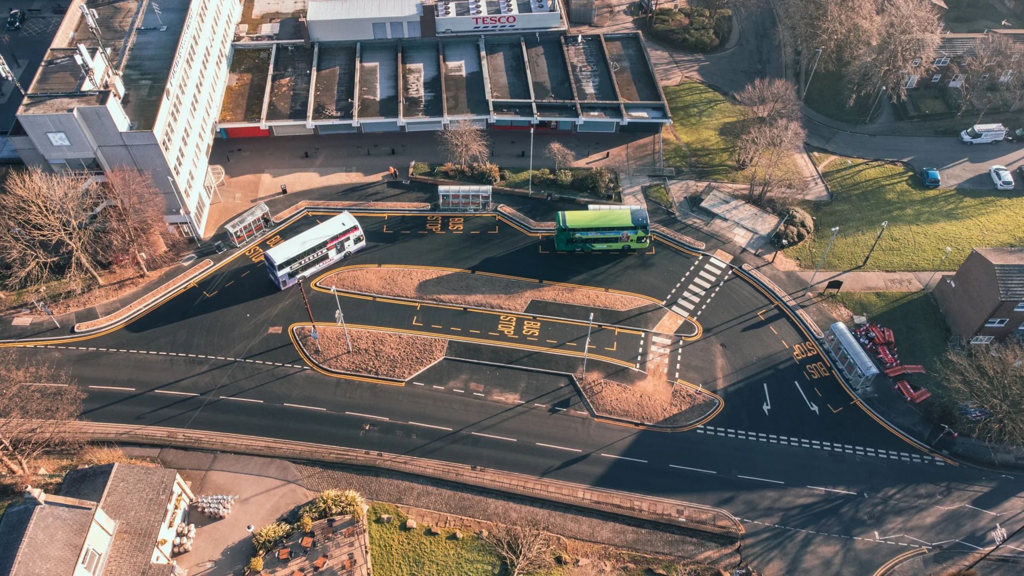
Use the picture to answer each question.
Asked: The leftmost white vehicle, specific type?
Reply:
bus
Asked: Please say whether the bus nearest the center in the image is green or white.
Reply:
green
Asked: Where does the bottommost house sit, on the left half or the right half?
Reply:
left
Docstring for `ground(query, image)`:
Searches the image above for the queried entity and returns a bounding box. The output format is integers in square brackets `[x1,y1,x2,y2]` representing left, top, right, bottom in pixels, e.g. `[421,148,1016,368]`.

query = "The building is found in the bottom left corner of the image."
[0,459,197,576]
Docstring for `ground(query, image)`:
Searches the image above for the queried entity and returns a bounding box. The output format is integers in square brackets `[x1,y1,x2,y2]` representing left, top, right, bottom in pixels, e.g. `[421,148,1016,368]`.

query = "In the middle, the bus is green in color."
[555,209,655,252]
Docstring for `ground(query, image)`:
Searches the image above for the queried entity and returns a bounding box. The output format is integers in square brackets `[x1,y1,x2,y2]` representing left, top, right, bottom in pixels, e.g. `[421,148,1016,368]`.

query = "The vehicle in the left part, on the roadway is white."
[258,209,370,291]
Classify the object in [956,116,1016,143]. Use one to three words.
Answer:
vehicle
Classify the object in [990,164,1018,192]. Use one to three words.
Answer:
car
